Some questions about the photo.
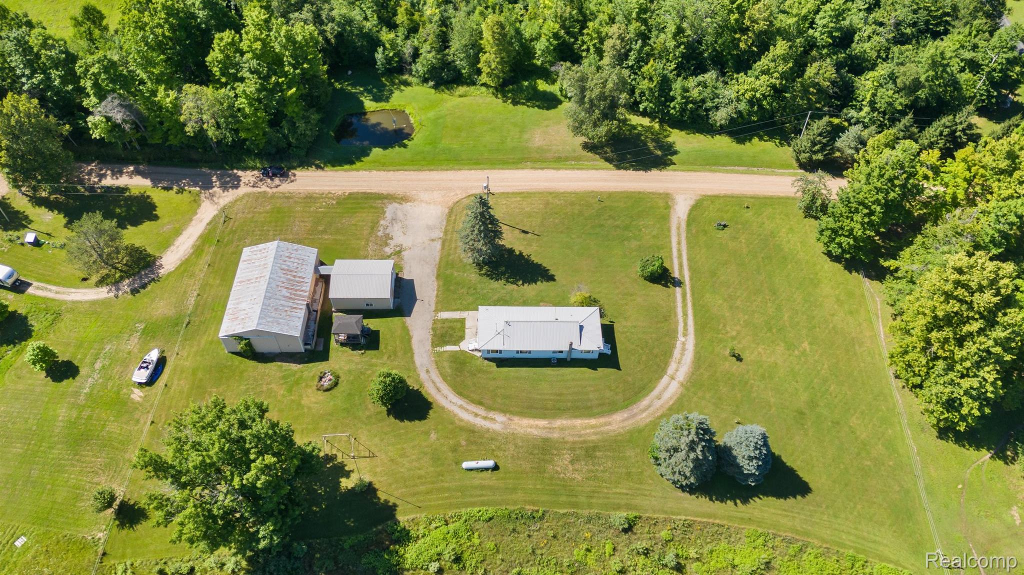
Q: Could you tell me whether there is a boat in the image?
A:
Yes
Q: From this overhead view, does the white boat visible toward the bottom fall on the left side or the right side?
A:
left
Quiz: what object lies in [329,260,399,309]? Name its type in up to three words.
building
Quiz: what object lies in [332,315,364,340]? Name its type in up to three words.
gazebo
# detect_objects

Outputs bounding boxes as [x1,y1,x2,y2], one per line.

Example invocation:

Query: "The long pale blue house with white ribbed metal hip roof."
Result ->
[472,306,611,362]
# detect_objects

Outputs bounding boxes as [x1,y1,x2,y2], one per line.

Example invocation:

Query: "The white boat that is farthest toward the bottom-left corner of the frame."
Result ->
[130,346,159,385]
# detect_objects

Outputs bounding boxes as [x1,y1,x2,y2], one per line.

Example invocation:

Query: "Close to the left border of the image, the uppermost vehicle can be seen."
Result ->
[0,261,20,285]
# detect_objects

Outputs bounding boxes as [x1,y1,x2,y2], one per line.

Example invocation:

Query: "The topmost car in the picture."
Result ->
[260,165,285,178]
